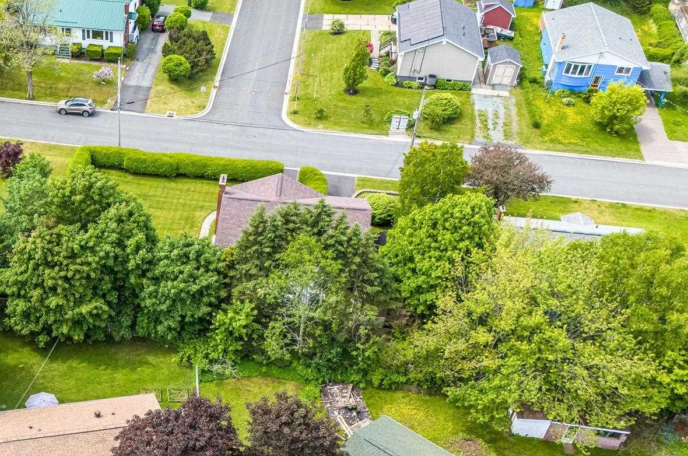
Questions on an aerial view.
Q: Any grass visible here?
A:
Yes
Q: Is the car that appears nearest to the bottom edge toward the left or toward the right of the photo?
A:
left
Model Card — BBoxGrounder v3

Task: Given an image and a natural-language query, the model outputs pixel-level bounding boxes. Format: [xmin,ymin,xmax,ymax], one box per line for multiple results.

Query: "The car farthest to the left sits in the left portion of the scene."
[56,100,97,121]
